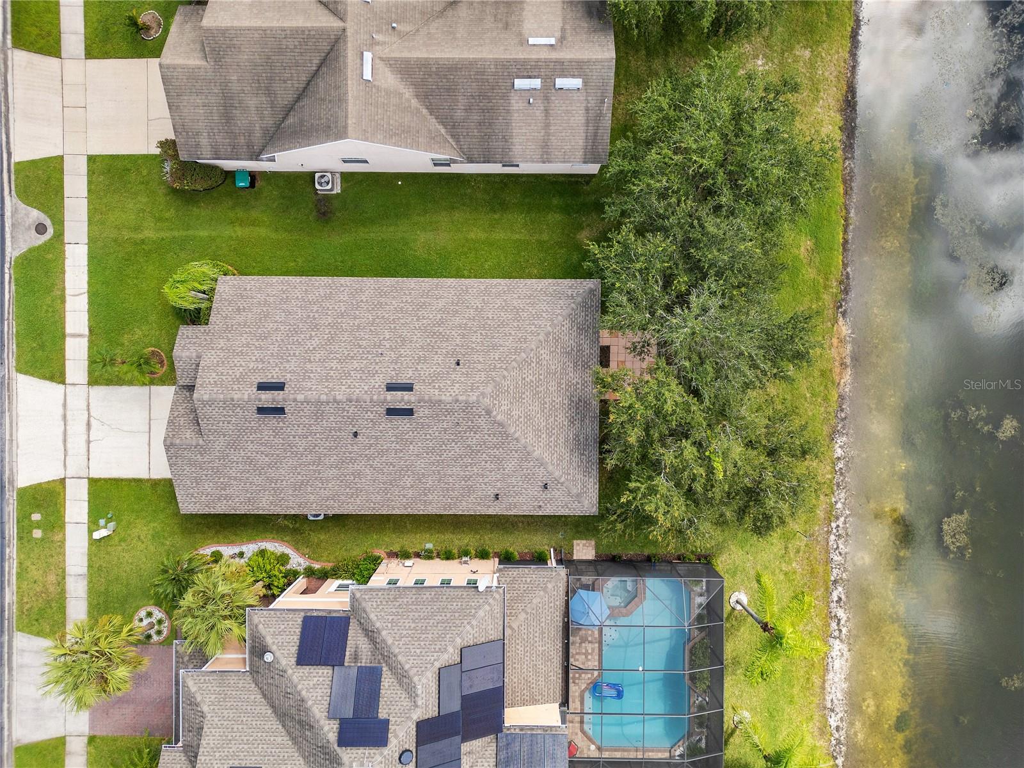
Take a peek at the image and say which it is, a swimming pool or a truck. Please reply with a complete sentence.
The image shows a swimming pool.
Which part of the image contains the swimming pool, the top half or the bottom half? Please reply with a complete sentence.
You can find the swimming pool in the bottom half.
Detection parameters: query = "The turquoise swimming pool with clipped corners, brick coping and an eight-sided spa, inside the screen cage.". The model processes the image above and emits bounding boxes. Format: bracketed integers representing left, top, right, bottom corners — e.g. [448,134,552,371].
[580,579,695,752]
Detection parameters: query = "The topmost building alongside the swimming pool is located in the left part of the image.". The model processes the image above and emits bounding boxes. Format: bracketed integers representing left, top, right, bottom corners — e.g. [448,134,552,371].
[164,276,600,515]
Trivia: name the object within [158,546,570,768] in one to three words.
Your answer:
house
